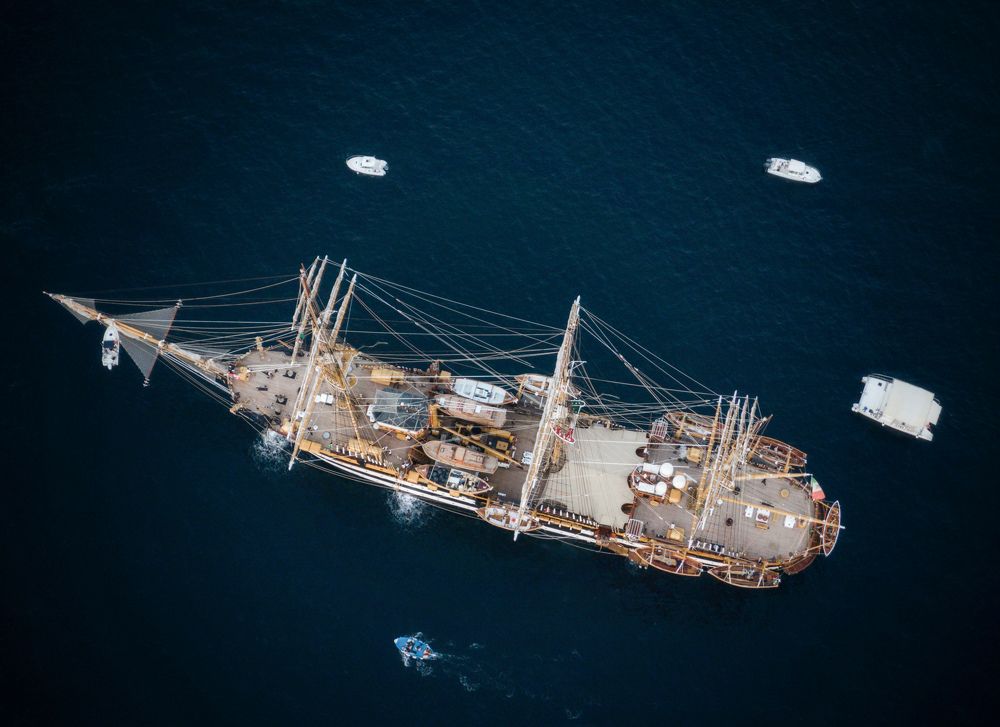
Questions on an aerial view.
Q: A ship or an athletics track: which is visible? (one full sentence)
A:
It is a ship that can be seen here.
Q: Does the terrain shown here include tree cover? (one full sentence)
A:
No, the scene doesn't show any tree cover.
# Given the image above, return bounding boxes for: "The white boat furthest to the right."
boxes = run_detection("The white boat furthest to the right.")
[846,374,941,441]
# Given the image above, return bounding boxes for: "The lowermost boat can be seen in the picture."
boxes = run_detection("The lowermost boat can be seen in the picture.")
[393,636,439,662]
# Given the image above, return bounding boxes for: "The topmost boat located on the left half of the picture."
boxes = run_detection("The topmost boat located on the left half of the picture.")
[346,155,391,177]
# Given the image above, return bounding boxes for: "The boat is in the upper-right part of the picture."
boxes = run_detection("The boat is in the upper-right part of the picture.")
[763,157,823,183]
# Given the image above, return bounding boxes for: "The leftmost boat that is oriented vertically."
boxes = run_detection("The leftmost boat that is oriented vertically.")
[101,324,121,369]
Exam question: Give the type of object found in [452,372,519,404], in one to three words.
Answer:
boat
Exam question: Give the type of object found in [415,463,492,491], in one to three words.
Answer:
boat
